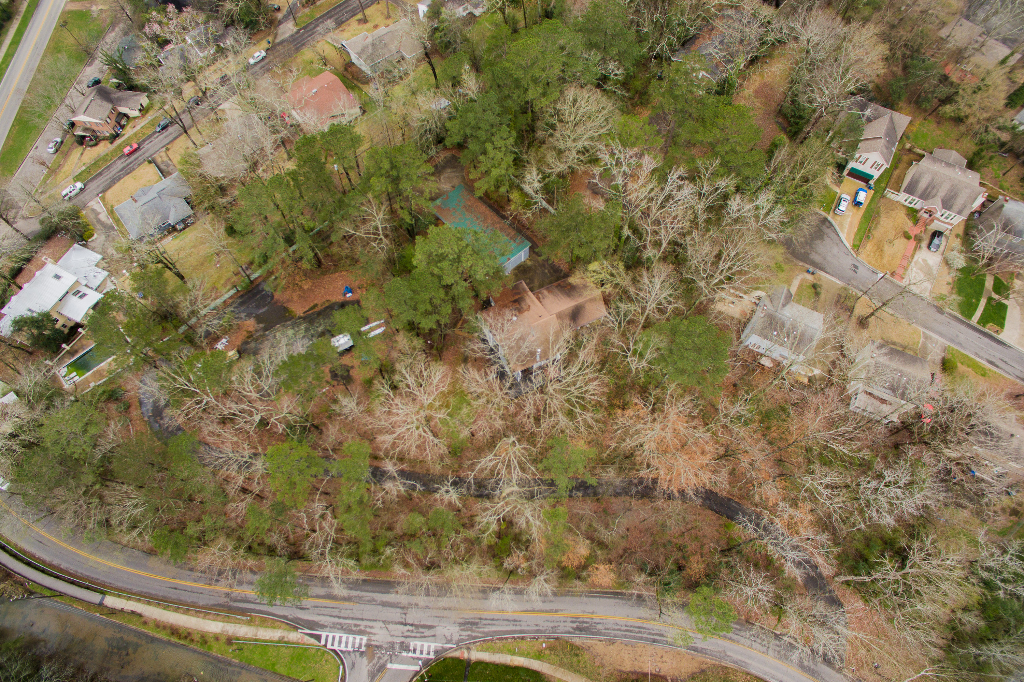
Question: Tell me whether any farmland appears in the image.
No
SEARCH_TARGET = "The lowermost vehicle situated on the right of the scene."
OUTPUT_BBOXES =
[929,231,942,251]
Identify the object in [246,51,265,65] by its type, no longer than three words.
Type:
car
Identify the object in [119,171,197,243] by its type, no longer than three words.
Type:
house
